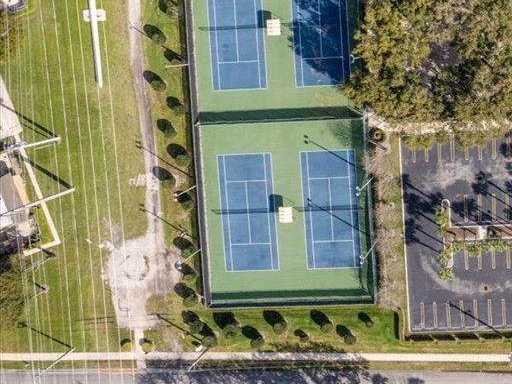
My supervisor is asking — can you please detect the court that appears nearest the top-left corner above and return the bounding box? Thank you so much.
[204,0,267,91]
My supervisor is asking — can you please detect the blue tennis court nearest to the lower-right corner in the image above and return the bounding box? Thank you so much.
[297,149,362,269]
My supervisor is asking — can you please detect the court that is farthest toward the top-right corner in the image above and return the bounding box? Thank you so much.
[287,0,350,87]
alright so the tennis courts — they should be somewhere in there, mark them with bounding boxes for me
[287,0,350,87]
[204,0,267,91]
[297,149,362,269]
[214,152,279,272]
